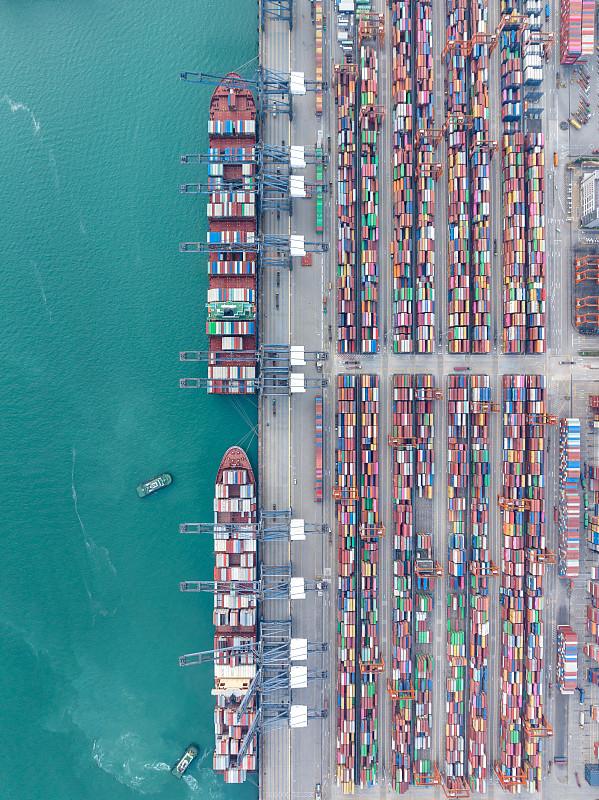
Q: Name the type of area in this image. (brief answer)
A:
port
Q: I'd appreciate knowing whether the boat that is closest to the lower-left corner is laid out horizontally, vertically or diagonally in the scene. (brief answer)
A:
diagonally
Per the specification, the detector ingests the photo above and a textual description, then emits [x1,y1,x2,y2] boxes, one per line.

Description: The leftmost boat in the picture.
[137,473,170,498]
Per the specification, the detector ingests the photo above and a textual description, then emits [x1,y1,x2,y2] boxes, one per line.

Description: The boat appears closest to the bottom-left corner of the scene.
[171,745,198,777]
